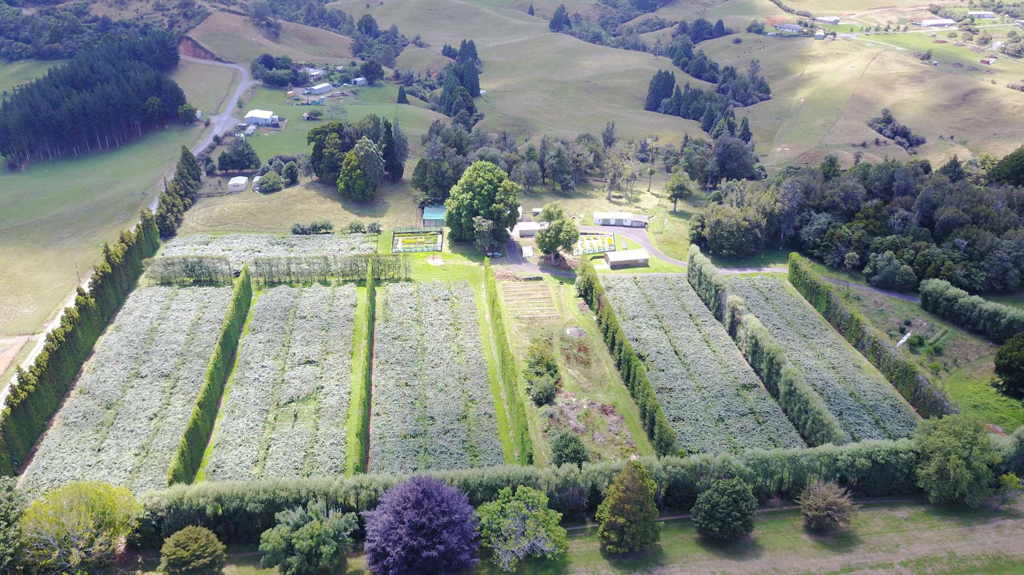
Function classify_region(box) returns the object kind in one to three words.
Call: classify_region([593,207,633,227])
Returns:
shed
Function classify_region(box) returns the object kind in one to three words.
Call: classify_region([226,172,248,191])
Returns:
shed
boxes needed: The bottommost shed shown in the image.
[603,245,651,270]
